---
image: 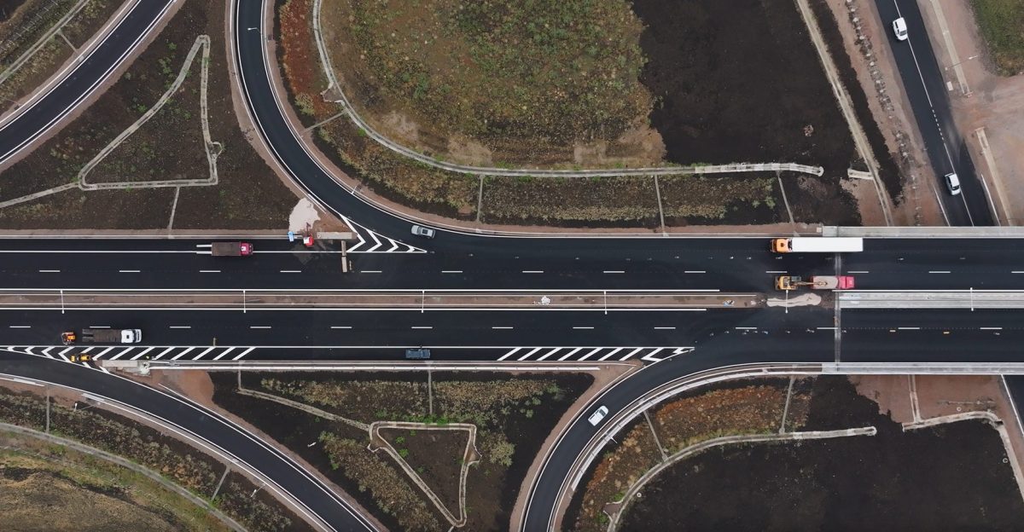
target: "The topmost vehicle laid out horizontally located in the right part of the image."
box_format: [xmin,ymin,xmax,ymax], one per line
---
[770,237,863,253]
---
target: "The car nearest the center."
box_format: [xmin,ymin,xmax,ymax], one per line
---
[411,225,436,238]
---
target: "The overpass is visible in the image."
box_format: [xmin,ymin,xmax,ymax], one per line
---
[822,226,1024,375]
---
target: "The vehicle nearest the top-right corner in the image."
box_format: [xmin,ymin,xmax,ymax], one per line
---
[891,15,908,41]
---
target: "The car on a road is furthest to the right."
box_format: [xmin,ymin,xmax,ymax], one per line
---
[943,171,959,196]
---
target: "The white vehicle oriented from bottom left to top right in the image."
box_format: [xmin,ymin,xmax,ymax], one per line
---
[586,404,610,428]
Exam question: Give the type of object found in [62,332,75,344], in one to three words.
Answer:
vehicle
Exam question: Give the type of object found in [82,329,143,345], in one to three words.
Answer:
vehicle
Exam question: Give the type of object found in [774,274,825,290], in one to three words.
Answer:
work vehicle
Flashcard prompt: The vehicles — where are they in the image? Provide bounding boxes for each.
[196,241,254,256]
[411,225,436,238]
[62,332,75,344]
[406,347,430,359]
[774,274,825,290]
[891,15,908,41]
[301,224,314,249]
[586,404,610,428]
[943,171,959,196]
[82,329,143,345]
[810,275,856,291]
[70,353,89,362]
[770,237,863,253]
